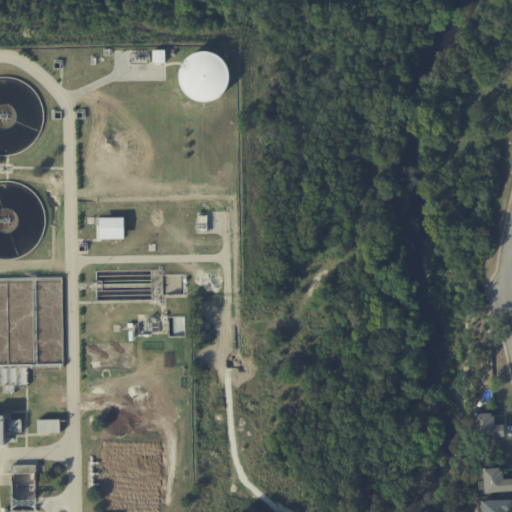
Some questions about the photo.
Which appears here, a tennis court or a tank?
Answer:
tank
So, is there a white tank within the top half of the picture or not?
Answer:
Yes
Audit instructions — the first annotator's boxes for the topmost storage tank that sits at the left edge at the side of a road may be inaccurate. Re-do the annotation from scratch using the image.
[0,76,44,156]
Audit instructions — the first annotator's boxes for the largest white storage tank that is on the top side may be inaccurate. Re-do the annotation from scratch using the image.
[178,50,229,102]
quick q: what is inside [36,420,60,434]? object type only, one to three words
building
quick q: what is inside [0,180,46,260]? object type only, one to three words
storage tank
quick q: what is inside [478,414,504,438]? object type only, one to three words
house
